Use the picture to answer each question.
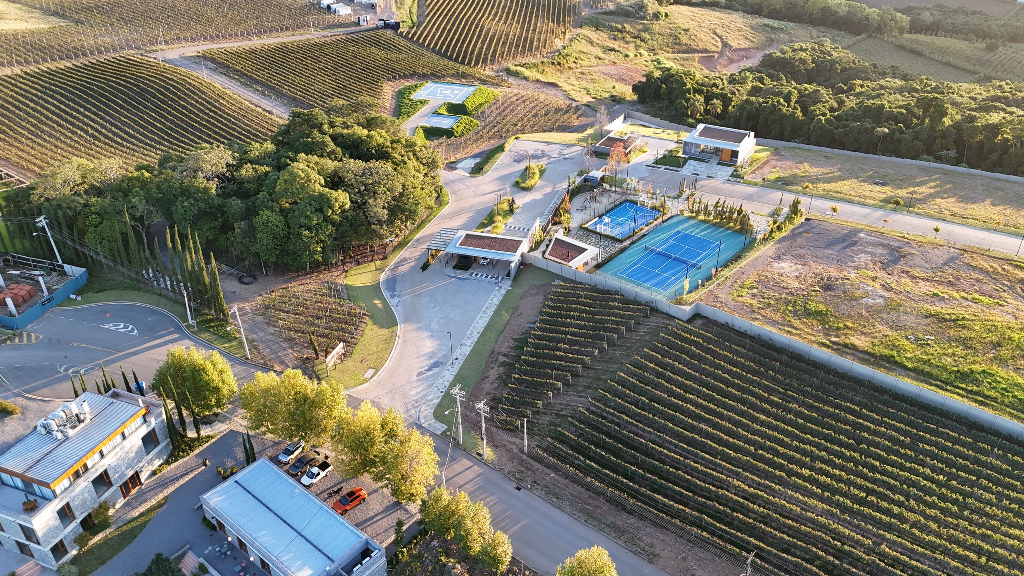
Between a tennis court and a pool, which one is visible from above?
tennis court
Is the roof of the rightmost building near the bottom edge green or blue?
blue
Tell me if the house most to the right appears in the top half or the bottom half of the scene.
top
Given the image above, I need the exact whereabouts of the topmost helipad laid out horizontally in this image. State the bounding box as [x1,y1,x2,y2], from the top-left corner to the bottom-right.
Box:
[401,79,500,116]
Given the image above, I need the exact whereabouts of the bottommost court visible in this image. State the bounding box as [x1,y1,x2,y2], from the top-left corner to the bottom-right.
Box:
[619,230,722,291]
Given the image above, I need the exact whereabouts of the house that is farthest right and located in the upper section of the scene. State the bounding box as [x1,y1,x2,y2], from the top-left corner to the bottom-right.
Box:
[683,119,751,164]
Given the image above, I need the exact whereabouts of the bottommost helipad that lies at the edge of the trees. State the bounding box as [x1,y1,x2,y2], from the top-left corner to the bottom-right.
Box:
[421,113,479,141]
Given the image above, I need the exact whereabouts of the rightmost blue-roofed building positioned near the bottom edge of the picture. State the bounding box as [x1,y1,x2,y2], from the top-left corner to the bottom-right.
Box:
[199,456,387,576]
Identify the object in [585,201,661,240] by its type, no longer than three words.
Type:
basketball court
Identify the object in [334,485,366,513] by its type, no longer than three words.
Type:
car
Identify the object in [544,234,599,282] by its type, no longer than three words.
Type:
shed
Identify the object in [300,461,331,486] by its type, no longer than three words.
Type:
truck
